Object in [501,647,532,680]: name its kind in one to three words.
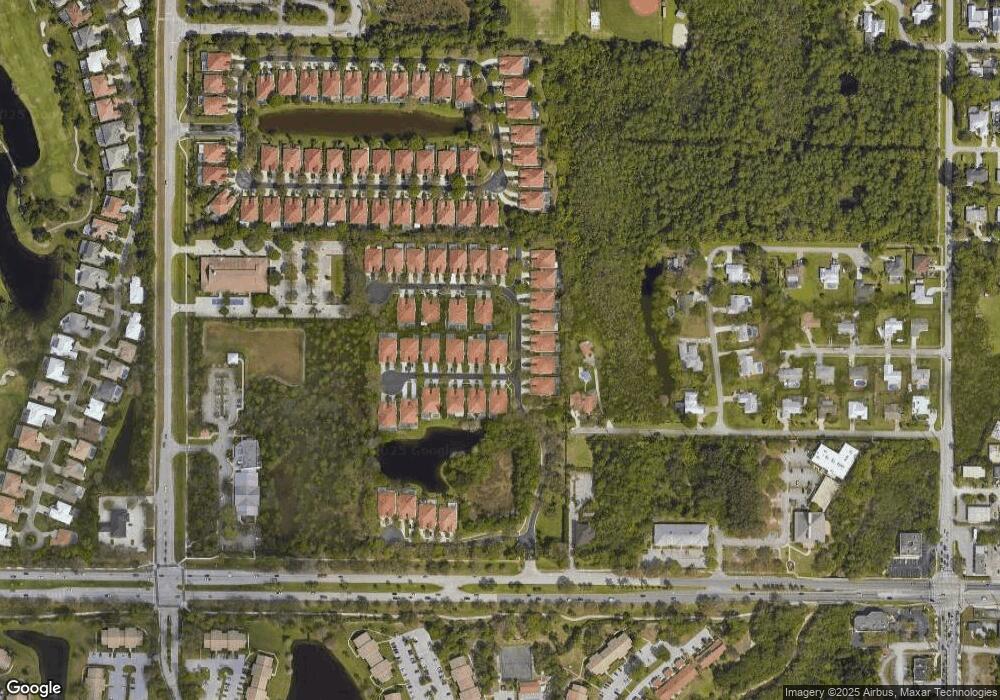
tennis court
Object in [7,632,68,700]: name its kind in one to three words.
pond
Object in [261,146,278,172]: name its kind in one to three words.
house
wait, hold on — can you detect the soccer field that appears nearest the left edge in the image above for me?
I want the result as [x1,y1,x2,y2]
[509,0,575,43]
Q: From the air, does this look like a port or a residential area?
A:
residential area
